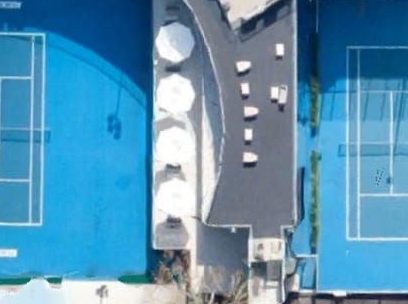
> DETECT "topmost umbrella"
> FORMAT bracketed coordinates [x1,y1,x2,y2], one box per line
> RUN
[155,23,194,63]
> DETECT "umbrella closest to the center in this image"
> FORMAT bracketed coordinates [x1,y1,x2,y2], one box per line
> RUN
[154,126,193,165]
